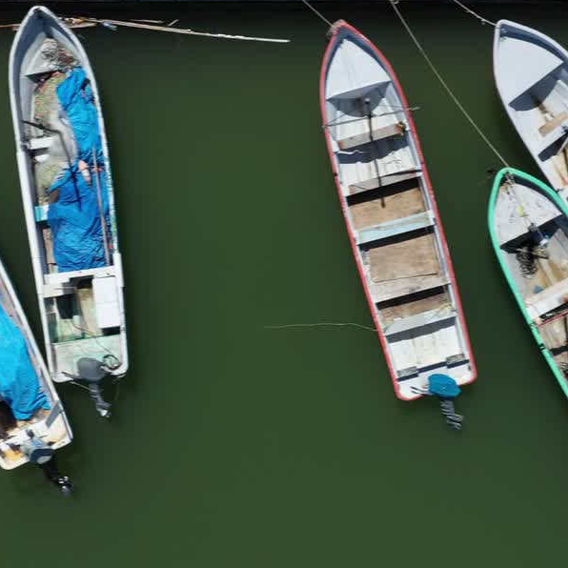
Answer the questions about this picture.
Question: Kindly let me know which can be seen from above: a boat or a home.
boat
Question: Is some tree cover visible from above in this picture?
No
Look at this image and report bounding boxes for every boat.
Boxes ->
[492,18,568,204]
[492,166,568,393]
[0,255,75,494]
[318,20,475,426]
[11,6,130,417]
